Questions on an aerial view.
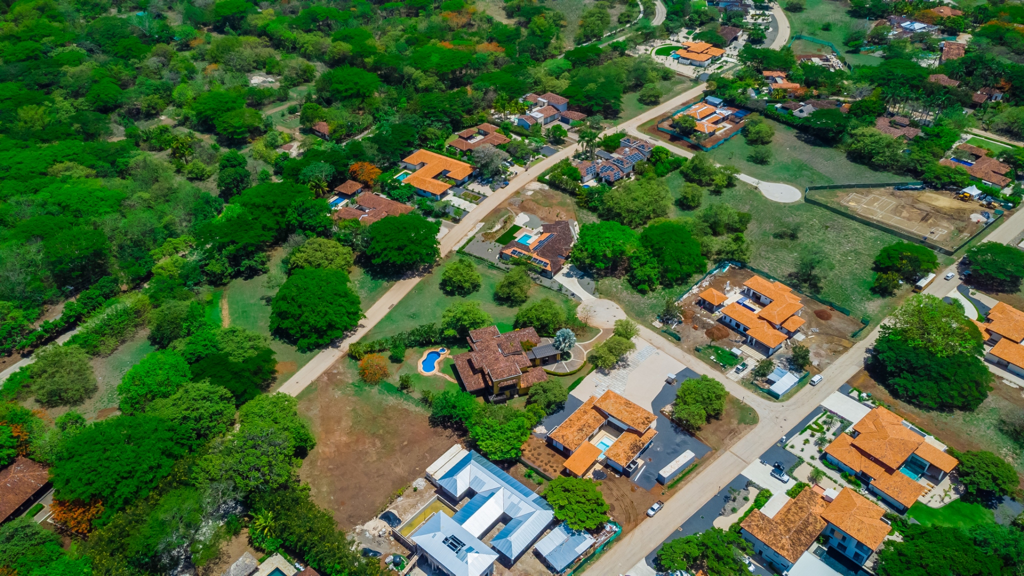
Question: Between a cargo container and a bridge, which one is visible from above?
cargo container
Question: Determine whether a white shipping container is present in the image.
Yes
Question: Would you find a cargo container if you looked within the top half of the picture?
No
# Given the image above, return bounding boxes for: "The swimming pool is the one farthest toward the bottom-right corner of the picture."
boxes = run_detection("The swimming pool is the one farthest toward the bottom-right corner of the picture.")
[898,460,927,482]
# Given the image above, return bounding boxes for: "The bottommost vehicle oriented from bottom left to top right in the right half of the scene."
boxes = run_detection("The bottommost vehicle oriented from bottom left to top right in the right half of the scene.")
[646,500,666,516]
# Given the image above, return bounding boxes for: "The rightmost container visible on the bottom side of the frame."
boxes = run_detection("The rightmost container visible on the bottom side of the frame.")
[657,450,695,485]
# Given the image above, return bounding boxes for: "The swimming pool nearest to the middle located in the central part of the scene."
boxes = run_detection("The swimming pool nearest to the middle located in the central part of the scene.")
[515,231,534,245]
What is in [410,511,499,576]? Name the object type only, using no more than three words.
house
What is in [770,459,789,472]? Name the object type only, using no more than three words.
vehicle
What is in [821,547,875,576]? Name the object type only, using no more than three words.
swimming pool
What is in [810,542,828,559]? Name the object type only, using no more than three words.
swimming pool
